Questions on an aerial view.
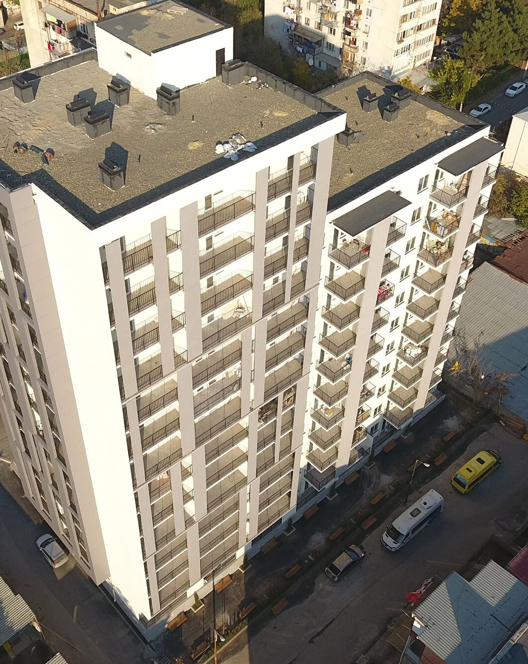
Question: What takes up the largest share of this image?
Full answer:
For the most part, this view shows buildings.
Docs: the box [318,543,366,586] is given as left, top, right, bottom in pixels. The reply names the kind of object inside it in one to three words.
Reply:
car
